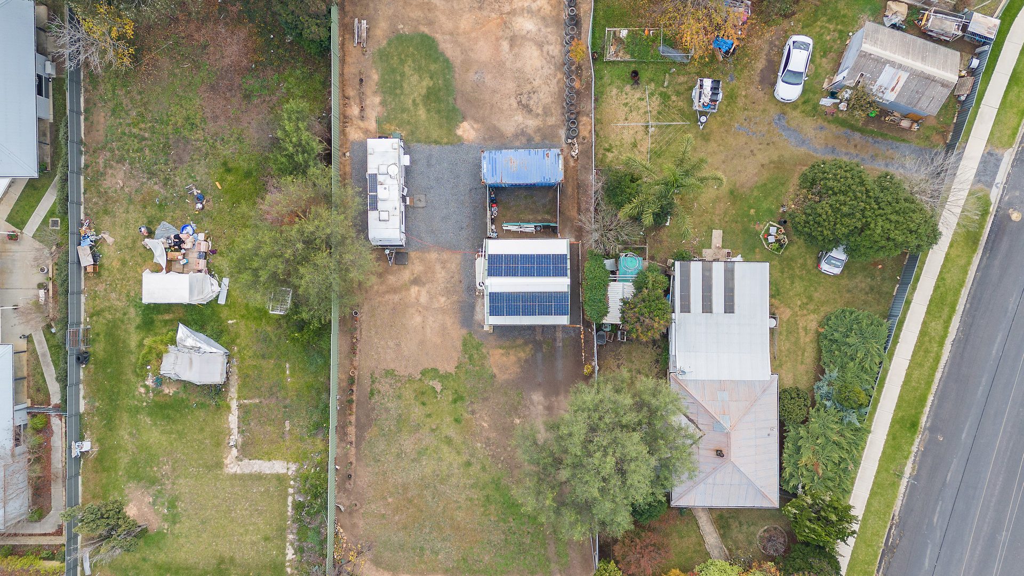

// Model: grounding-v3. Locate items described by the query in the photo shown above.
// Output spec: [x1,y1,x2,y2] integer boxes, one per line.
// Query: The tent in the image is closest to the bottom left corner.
[160,321,229,394]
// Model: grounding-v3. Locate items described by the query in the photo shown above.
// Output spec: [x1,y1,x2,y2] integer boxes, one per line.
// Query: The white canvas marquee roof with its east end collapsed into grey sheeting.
[128,273,220,305]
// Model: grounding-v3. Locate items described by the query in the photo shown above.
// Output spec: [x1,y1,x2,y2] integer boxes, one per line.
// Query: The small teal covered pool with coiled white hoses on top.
[618,253,642,282]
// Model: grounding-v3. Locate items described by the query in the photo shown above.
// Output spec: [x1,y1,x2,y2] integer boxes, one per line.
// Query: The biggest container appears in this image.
[480,148,565,189]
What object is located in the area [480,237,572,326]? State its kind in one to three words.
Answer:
shed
